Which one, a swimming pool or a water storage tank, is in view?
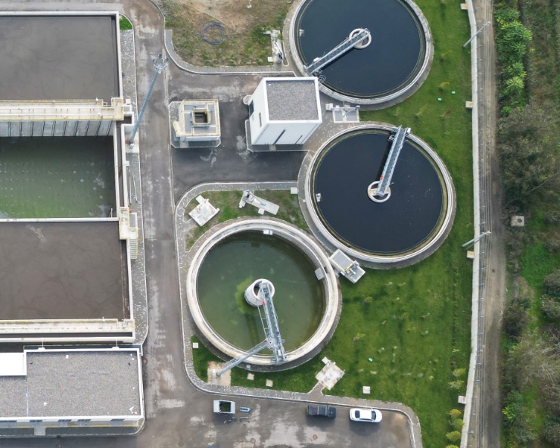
water storage tank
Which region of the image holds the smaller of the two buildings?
top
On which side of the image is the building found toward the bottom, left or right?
left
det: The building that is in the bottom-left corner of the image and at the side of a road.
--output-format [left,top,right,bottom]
[0,344,144,435]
